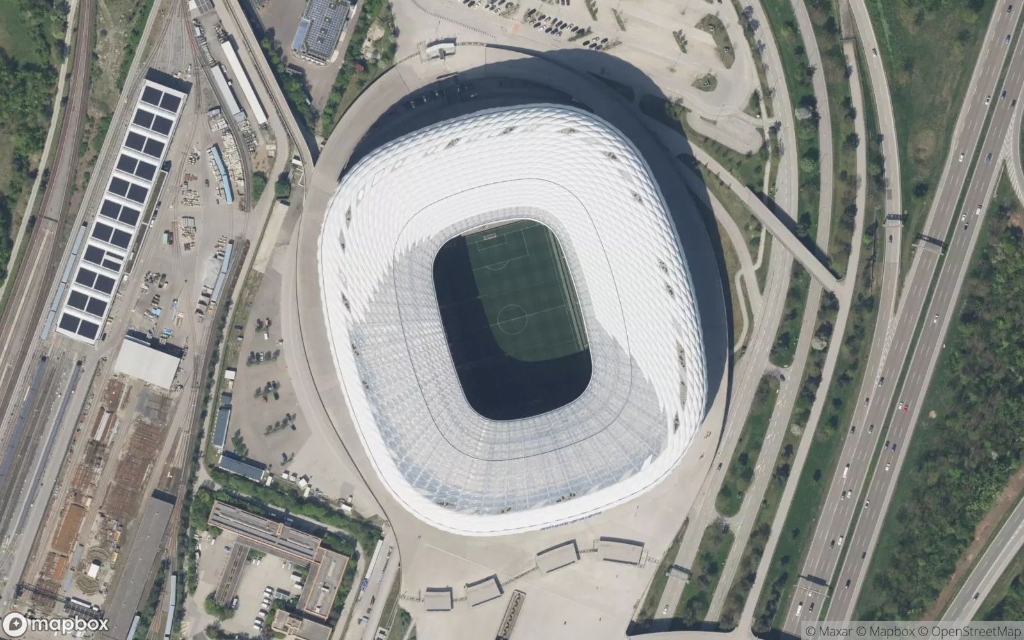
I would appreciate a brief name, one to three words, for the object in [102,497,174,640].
shed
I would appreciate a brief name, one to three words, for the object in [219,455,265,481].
building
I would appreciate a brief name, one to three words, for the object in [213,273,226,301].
rail car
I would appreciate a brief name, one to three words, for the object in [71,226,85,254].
rail car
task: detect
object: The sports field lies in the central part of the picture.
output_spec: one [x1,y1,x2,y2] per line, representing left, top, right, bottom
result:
[435,219,590,420]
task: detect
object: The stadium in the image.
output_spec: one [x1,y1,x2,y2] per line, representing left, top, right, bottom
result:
[316,102,709,538]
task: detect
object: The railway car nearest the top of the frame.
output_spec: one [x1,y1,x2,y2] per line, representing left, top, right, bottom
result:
[213,147,226,175]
